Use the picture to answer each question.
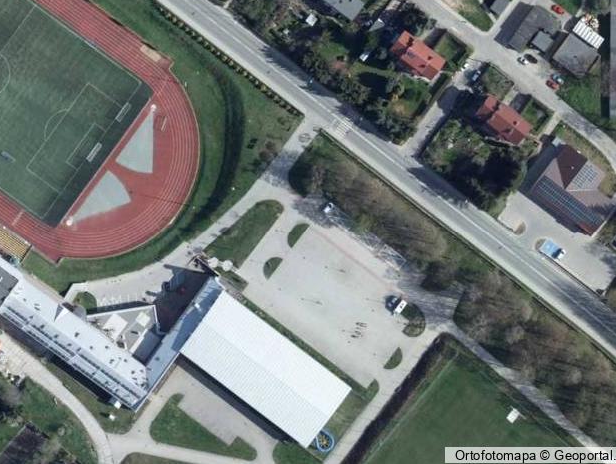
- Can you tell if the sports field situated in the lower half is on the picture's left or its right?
right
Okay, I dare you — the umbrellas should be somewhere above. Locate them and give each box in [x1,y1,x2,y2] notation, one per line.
[208,257,219,267]
[223,260,232,270]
